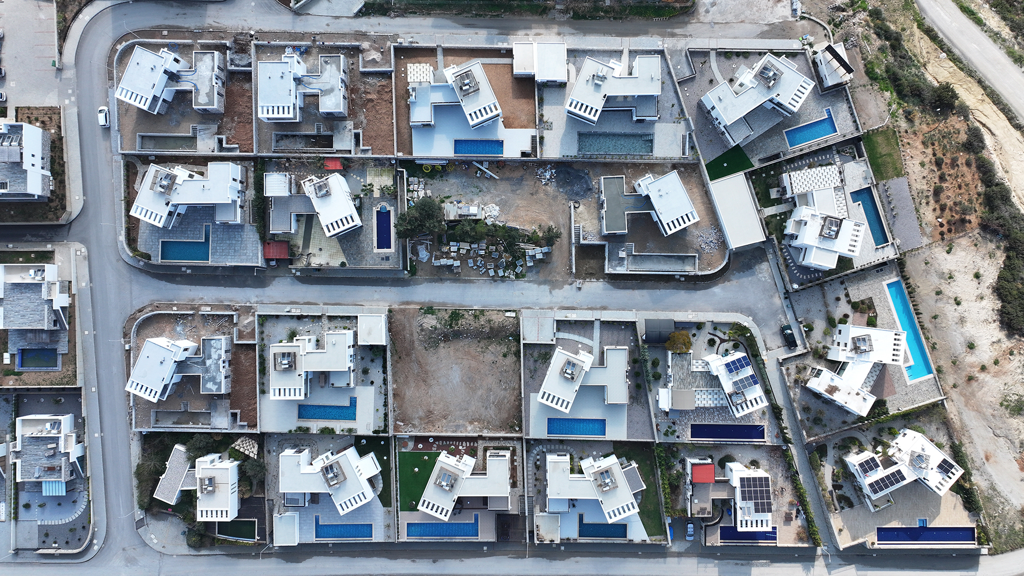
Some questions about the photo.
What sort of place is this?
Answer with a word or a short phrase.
residential area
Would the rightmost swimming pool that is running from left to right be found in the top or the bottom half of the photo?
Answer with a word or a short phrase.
bottom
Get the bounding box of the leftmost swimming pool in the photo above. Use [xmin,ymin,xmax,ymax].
[15,346,59,370]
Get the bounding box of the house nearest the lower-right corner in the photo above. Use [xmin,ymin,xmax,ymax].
[842,428,964,511]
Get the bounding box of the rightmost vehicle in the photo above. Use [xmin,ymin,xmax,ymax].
[782,323,799,350]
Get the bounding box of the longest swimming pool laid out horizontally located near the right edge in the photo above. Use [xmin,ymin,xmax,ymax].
[876,517,977,543]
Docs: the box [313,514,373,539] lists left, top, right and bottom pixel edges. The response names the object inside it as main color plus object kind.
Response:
blue swimming pool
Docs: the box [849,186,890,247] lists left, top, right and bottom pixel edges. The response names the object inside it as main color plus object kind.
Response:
blue swimming pool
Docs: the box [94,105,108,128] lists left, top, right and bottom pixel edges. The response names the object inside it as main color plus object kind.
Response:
white car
